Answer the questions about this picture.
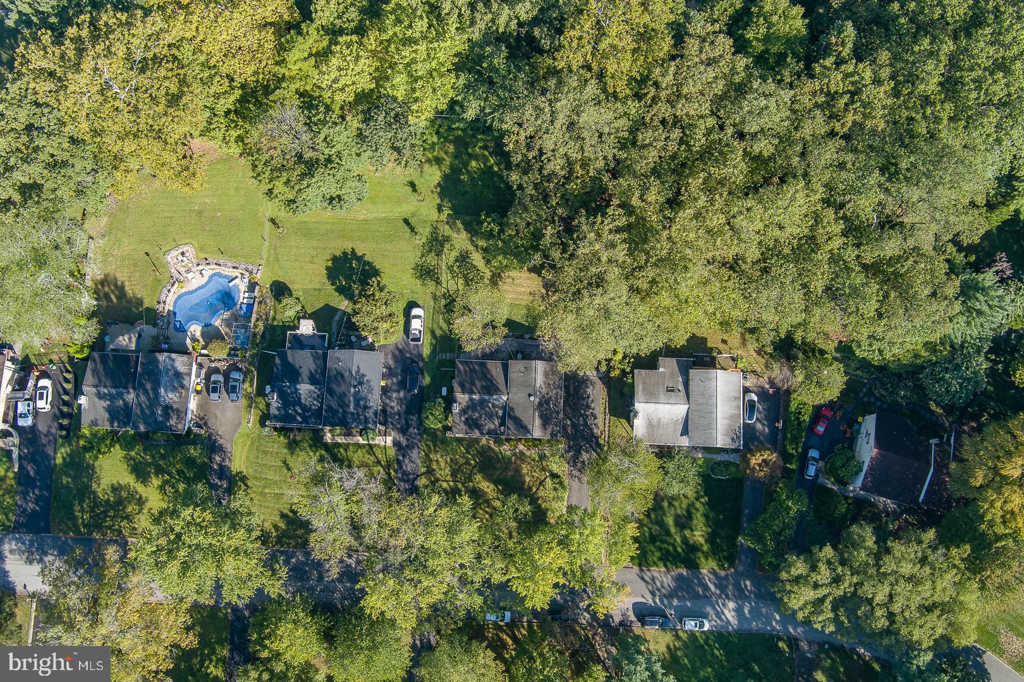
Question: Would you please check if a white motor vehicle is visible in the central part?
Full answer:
Yes, a white motor vehicle is visible in the central part.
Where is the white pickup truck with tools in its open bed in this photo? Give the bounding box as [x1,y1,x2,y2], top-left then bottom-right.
[407,307,423,343]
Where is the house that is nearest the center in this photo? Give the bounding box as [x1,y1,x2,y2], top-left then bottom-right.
[451,359,564,440]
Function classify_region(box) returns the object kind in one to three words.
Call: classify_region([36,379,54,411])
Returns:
car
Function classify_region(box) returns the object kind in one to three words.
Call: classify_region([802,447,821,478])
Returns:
car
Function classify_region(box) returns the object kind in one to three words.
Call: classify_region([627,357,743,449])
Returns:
house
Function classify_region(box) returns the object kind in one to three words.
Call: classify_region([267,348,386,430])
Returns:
house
